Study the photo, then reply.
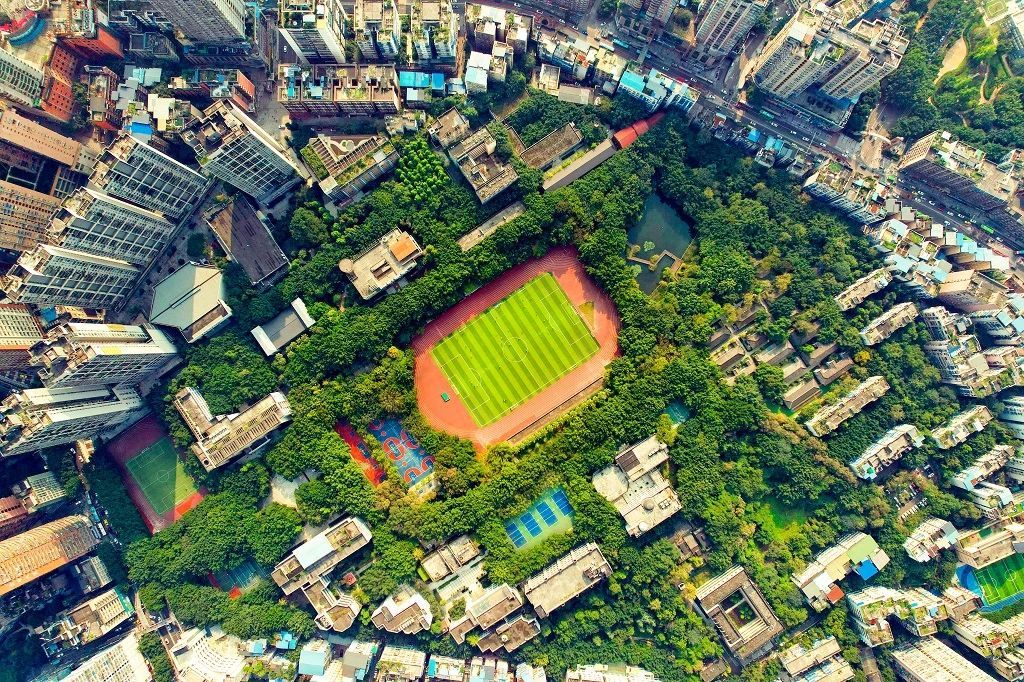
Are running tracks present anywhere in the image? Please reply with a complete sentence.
Yes, there is a running track in the image.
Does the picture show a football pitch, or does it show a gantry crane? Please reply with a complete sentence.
This aerial view contains a football pitch.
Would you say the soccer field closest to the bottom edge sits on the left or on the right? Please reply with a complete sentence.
The soccer field closest to the bottom edge is on the right side of the image.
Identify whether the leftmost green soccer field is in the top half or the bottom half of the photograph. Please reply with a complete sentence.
It is in the bottom half that the leftmost green soccer field appears.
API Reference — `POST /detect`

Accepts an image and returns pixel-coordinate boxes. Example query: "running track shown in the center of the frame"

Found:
[411,246,623,455]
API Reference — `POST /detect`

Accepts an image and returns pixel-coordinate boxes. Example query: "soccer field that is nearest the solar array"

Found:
[432,273,600,427]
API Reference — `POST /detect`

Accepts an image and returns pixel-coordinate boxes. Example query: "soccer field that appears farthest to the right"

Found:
[973,547,1024,606]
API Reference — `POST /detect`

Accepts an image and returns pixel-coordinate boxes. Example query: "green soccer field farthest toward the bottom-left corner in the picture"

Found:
[125,439,194,515]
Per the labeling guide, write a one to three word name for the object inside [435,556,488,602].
building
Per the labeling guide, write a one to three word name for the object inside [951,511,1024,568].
building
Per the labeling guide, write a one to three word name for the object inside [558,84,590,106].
shed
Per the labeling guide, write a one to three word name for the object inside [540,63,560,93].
house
